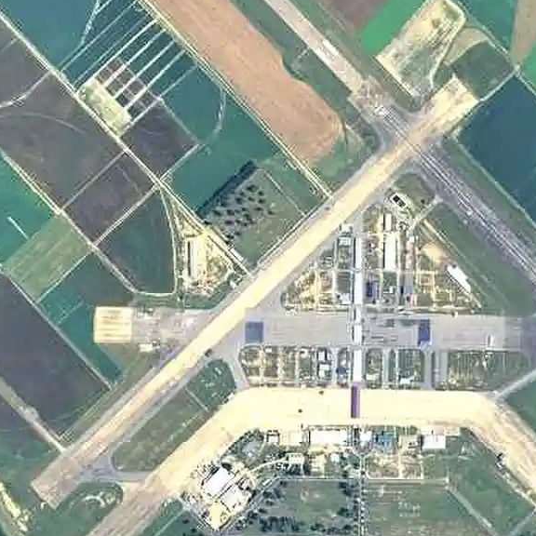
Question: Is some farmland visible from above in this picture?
Yes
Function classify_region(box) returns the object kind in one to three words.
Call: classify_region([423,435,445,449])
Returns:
building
